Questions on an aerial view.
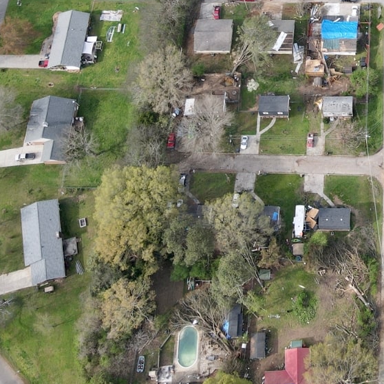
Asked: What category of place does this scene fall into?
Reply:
residential area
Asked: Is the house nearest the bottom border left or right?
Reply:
right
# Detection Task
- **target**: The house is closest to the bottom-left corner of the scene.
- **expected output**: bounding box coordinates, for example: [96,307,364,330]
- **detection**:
[22,198,68,285]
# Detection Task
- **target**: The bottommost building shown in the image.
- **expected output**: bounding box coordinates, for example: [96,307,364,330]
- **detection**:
[264,349,335,384]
